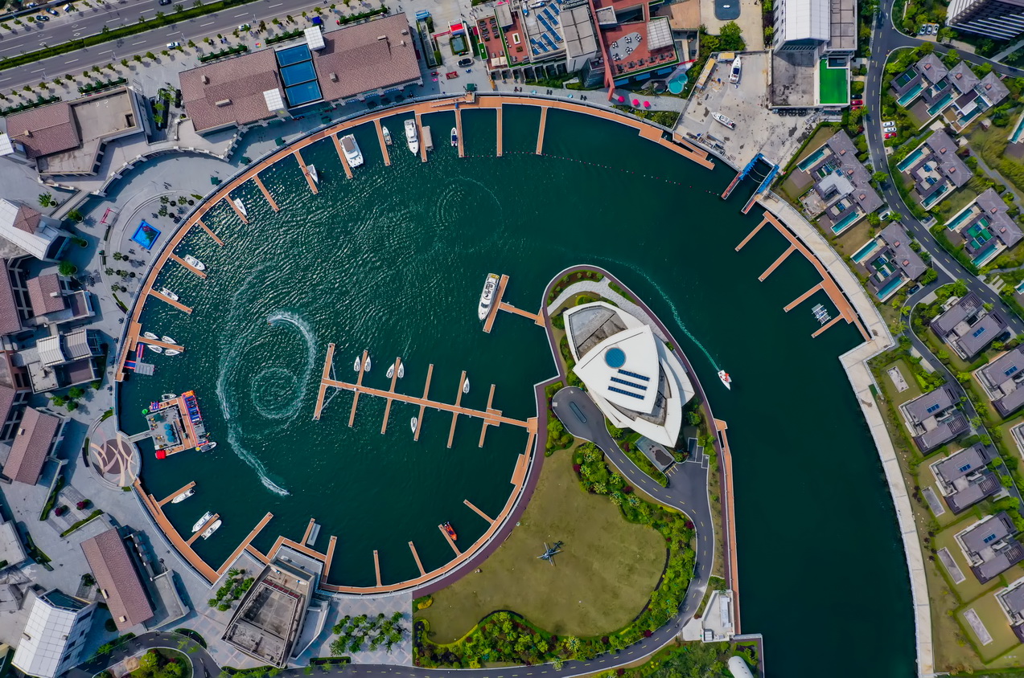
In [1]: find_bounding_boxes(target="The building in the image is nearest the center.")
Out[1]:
[564,301,695,448]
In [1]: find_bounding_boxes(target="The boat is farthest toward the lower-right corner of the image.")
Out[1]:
[719,370,732,390]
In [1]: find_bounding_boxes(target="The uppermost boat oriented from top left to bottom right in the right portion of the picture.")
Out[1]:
[712,112,737,130]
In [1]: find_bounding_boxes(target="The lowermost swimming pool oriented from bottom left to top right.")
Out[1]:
[875,275,909,301]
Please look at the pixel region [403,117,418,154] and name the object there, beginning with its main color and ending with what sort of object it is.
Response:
white boat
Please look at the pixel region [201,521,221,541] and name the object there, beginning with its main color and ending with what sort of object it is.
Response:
white boat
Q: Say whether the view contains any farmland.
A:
No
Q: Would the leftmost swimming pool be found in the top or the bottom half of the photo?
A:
top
